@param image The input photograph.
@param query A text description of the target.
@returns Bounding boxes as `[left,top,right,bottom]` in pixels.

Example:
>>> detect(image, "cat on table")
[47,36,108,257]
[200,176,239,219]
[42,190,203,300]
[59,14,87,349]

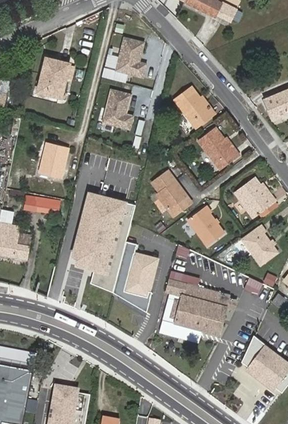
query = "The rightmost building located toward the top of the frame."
[264,89,288,124]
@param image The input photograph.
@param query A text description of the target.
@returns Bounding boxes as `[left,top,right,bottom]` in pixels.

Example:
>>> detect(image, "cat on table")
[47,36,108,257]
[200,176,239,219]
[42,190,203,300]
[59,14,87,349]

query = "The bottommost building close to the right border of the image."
[242,336,288,392]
